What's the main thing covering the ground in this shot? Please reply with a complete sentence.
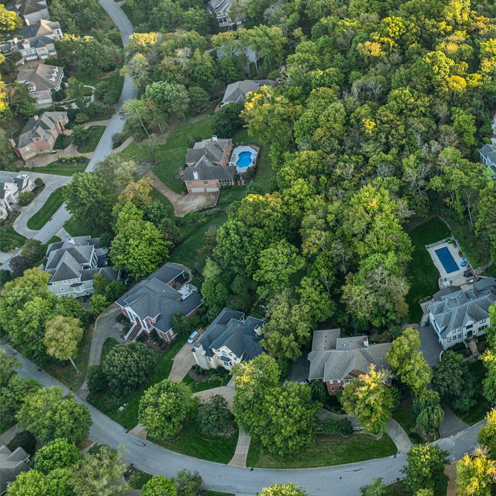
The largest share of the image is taken up by trees.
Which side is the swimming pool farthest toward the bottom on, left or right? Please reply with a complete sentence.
The swimming pool farthest toward the bottom appears in the right half of the scene.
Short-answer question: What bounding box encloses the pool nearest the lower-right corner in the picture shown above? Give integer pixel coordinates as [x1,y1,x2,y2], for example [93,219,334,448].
[433,245,462,275]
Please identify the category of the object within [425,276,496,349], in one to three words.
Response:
house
